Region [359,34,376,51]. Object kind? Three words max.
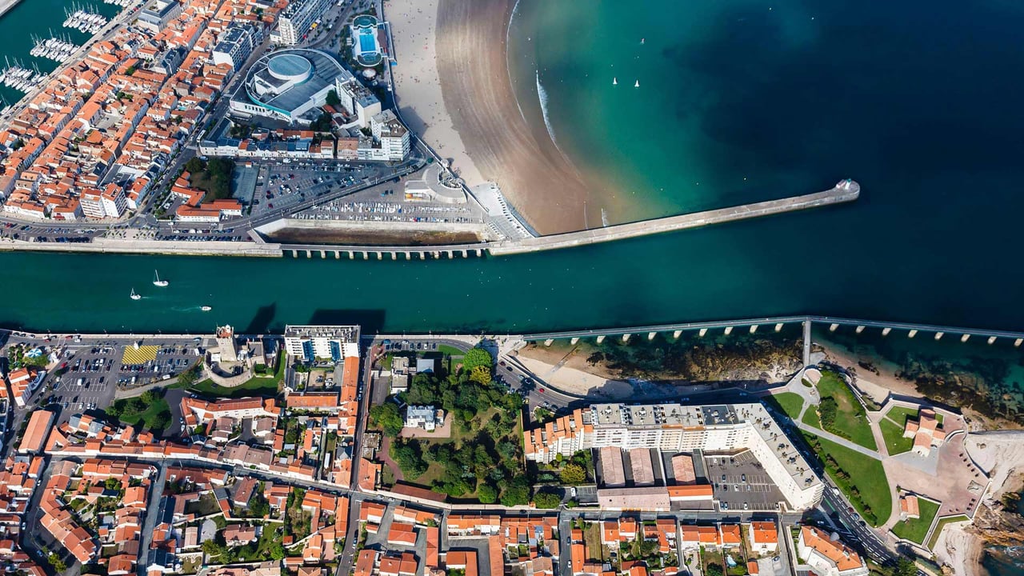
swimming pool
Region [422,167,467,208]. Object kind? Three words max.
building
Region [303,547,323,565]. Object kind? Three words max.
house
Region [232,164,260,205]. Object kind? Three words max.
sports court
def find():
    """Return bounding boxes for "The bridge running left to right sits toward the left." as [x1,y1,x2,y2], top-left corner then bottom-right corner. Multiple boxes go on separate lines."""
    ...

[276,240,492,258]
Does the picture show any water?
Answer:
Yes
